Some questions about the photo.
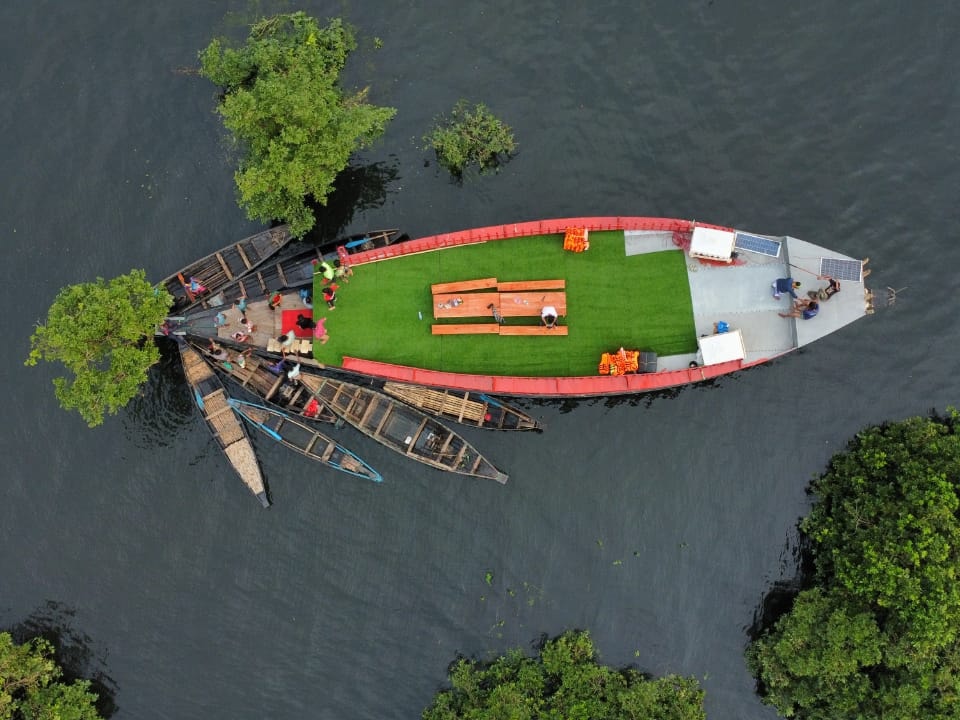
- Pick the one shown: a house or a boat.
boat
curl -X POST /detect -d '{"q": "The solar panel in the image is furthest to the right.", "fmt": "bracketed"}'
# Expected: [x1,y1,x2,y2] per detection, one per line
[819,258,862,282]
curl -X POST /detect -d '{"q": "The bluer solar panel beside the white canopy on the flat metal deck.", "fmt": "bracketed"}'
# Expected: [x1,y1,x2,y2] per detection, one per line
[735,232,779,257]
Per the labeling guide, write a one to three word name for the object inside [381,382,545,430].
boat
